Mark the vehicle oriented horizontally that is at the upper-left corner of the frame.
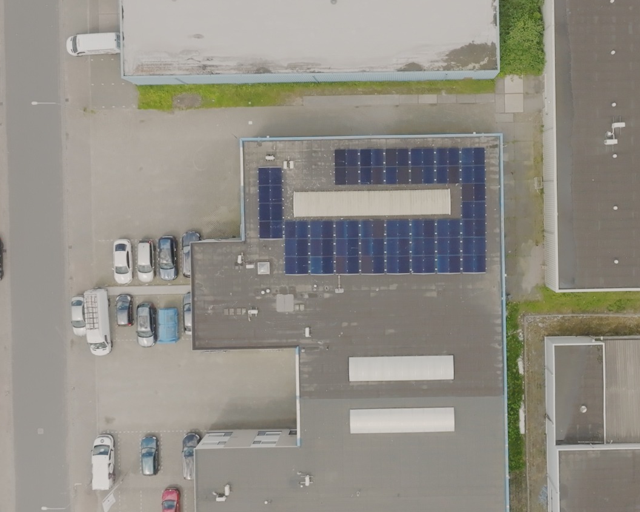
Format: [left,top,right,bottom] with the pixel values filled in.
[68,32,120,55]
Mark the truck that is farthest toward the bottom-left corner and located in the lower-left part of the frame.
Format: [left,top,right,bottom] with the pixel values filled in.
[92,433,116,493]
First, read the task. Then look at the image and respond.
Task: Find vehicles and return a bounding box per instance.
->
[156,237,177,280]
[115,295,134,327]
[111,240,133,283]
[68,32,120,55]
[92,433,116,493]
[139,435,160,476]
[134,241,156,281]
[135,303,158,346]
[68,296,83,336]
[177,294,191,336]
[180,433,201,480]
[177,233,199,276]
[83,290,110,353]
[159,488,181,512]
